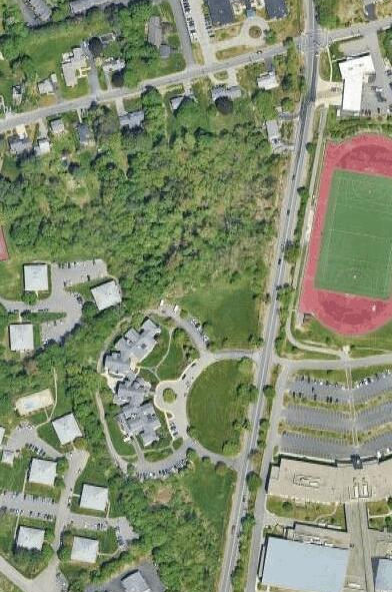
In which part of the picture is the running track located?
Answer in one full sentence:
Look in the right portion of the view to spot the running track.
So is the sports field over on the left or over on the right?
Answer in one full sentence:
It is on the right.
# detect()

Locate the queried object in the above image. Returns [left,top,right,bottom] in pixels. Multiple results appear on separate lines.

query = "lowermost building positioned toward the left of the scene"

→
[121,571,150,592]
